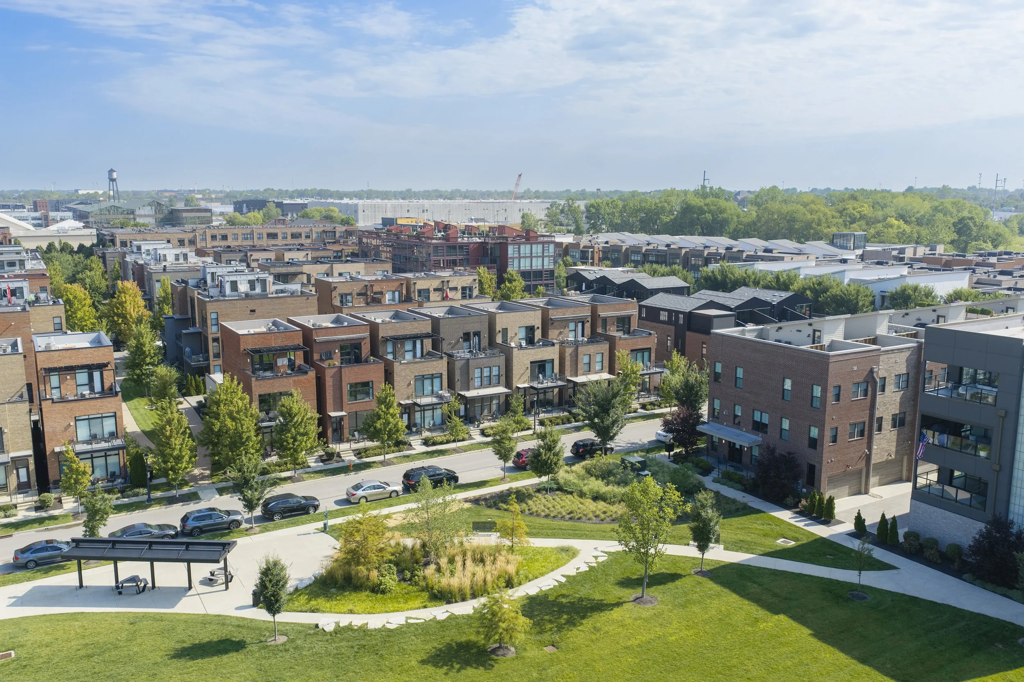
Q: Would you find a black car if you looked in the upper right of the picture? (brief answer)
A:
No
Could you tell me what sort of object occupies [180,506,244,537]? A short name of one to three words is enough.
car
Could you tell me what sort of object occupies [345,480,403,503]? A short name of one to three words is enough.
car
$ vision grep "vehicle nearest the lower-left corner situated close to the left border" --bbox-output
[13,538,76,569]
